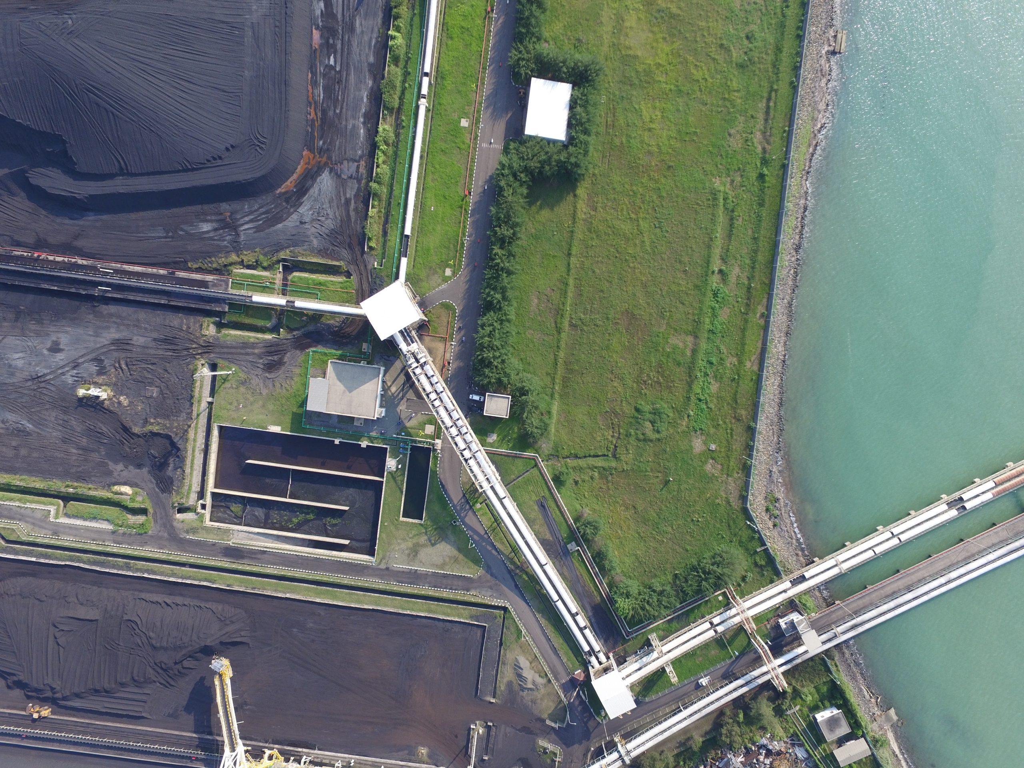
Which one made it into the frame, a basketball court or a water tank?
water tank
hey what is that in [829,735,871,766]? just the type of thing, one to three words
shed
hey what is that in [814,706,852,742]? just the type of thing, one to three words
shed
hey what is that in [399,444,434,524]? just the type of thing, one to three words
water tank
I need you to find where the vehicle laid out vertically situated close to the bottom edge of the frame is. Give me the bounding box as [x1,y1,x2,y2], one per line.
[208,651,274,768]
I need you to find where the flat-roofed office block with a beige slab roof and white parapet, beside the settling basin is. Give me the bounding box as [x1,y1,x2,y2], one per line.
[307,360,387,419]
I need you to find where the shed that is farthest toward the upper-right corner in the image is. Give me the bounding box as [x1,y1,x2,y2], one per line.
[525,78,572,143]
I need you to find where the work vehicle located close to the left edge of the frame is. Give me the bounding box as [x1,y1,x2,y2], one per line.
[30,701,53,714]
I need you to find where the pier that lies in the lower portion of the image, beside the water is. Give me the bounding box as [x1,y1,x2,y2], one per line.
[808,508,1024,636]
